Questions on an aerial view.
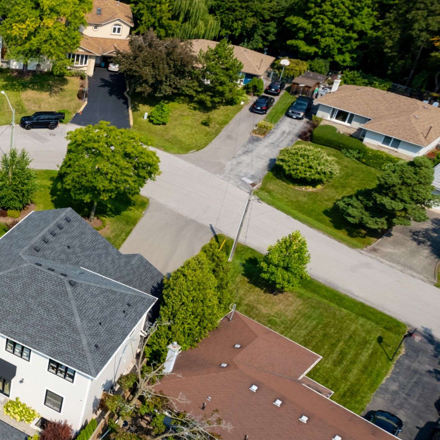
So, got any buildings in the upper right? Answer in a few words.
Yes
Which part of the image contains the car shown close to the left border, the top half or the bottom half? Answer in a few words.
top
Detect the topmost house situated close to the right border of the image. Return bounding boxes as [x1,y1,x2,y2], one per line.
[314,75,440,162]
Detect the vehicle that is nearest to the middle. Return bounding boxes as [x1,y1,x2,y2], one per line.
[254,92,276,111]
